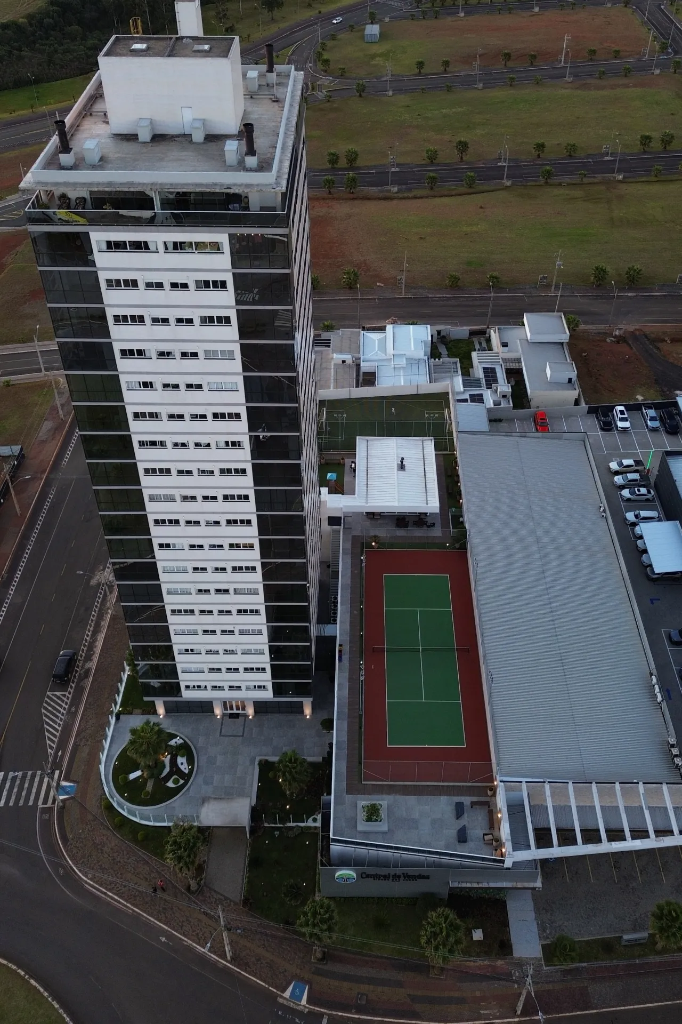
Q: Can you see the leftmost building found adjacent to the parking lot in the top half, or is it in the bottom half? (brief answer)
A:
top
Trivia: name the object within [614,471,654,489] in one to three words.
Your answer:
vehicle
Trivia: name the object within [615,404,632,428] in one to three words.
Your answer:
car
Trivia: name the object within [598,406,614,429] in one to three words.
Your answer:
car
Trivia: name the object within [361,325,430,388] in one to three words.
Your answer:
house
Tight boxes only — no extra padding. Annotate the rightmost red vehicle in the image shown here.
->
[535,407,550,431]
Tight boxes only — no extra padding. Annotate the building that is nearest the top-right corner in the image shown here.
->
[494,313,577,407]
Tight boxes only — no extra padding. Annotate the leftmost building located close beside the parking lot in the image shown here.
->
[19,0,321,715]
